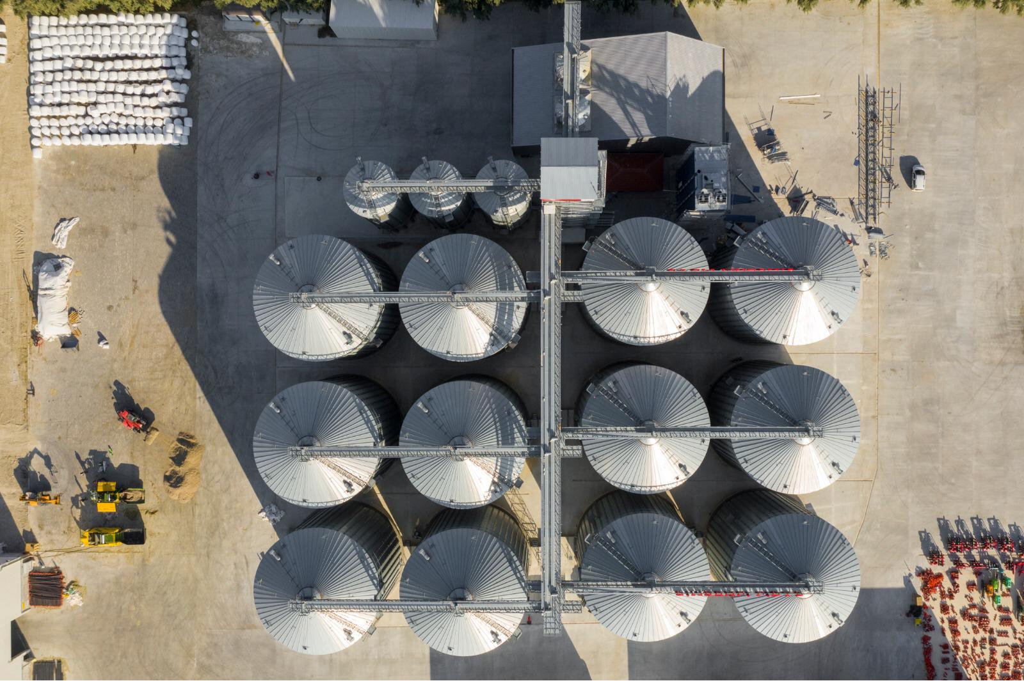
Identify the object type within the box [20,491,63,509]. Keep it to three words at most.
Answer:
work vehicle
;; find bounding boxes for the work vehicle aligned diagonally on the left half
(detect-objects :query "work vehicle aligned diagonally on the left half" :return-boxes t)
[113,407,159,444]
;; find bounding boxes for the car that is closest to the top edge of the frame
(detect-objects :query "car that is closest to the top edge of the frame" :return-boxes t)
[913,164,928,191]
